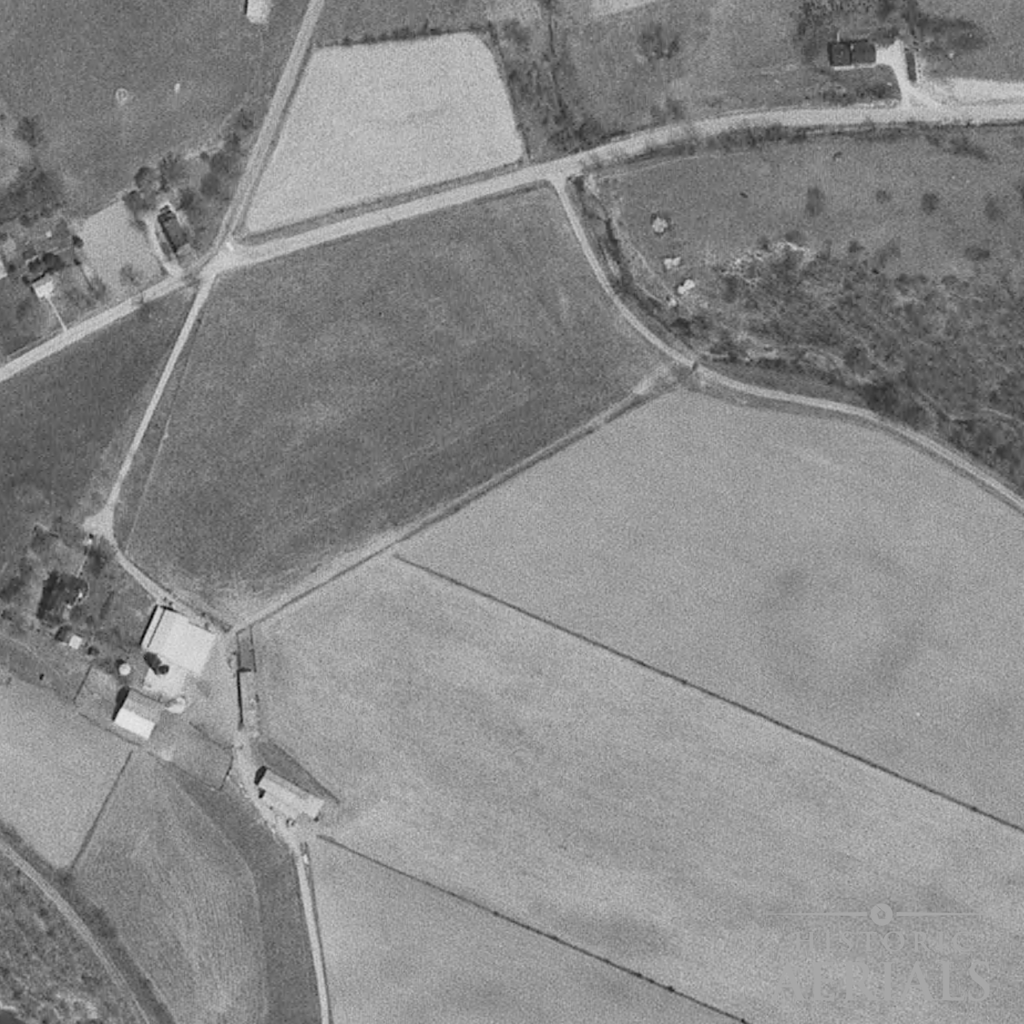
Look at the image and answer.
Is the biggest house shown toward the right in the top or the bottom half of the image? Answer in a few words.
top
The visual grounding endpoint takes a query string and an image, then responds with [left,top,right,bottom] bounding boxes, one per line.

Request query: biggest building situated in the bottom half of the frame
[141,606,215,675]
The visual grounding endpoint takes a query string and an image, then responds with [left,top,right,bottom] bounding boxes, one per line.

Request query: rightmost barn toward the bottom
[258,768,324,817]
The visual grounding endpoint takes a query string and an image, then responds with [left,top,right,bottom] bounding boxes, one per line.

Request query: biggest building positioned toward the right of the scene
[829,42,876,67]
